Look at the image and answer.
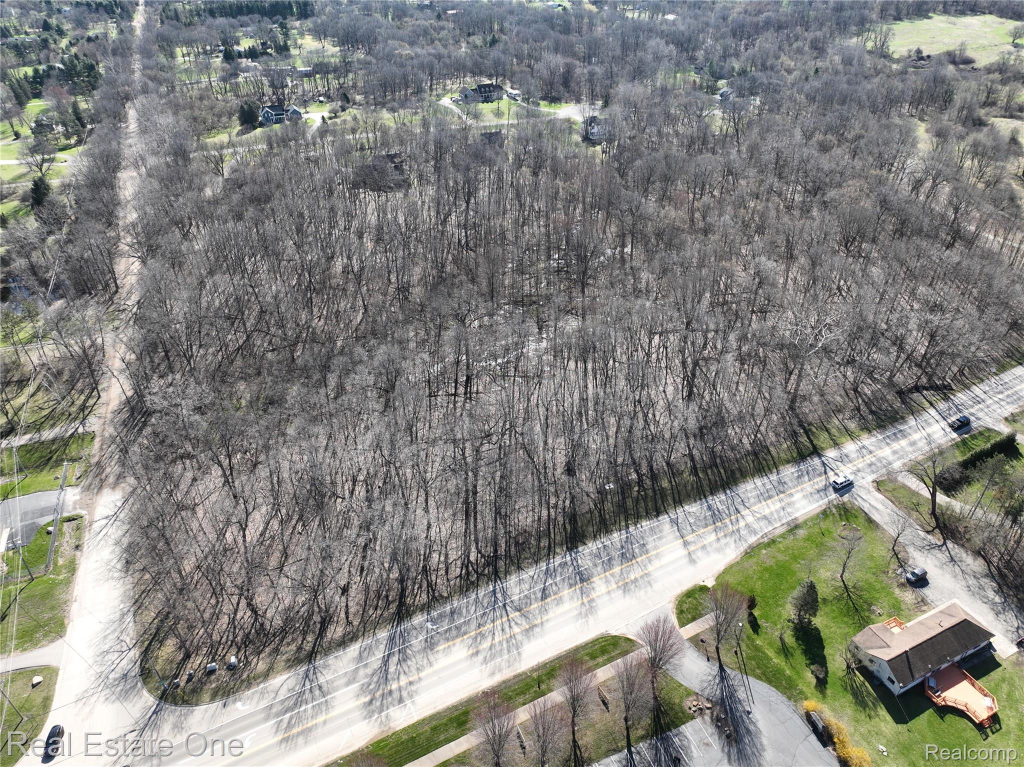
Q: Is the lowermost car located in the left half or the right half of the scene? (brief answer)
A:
left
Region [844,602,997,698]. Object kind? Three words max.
house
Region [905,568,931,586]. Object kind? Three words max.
car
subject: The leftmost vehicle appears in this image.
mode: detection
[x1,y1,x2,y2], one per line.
[32,726,69,761]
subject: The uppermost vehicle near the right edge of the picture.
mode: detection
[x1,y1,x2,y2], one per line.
[950,419,973,432]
